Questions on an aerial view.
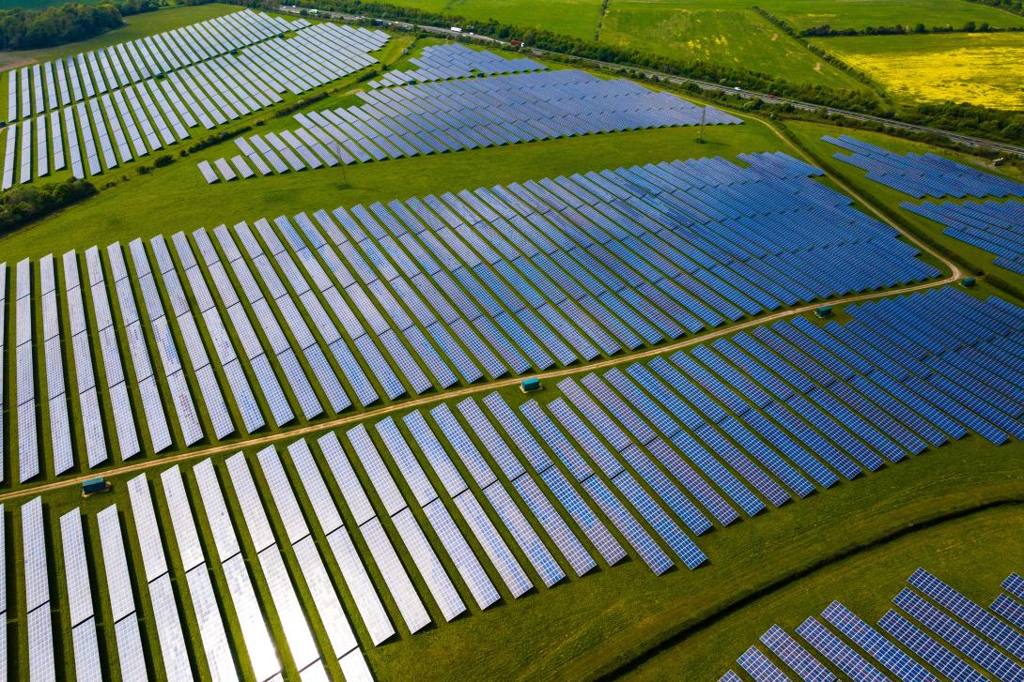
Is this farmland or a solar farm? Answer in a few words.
solar farm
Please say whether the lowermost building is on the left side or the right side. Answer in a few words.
left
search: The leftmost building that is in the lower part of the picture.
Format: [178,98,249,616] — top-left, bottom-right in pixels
[76,480,108,502]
